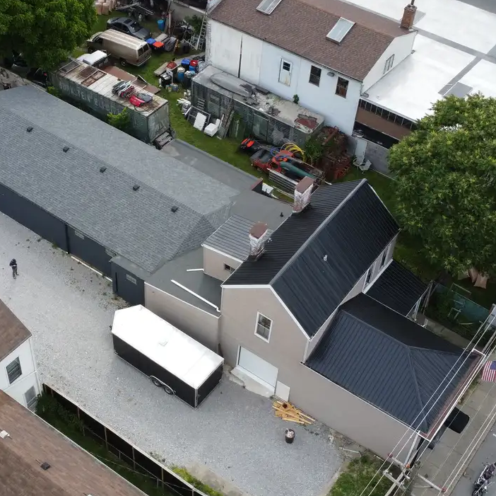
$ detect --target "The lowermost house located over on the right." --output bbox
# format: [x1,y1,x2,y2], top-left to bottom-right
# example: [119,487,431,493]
[148,173,492,472]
